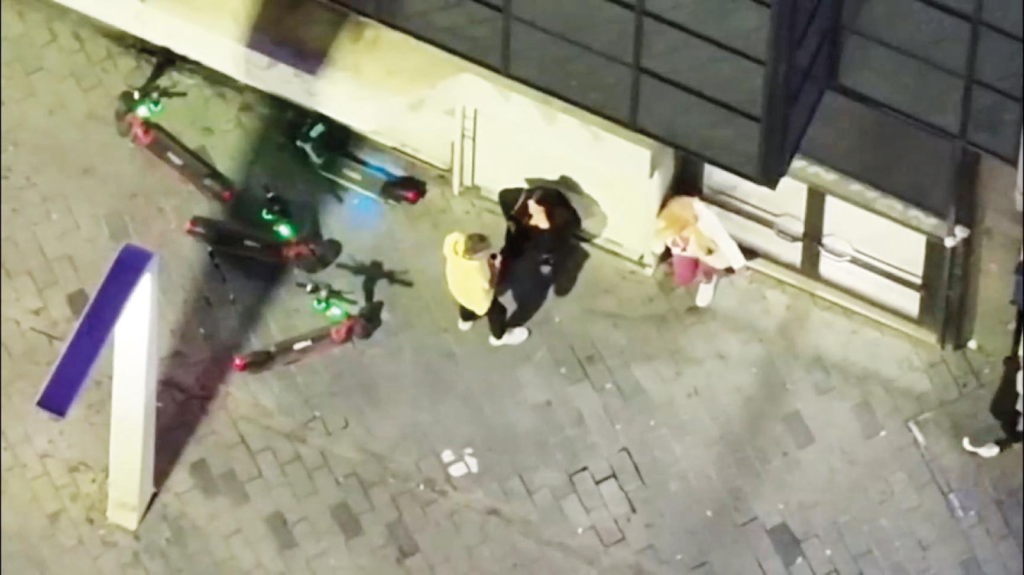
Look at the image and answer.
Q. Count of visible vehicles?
4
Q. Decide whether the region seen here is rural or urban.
urban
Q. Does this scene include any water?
No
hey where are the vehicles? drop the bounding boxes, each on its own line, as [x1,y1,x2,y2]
[113,80,238,204]
[231,270,379,372]
[278,101,418,201]
[185,179,346,266]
